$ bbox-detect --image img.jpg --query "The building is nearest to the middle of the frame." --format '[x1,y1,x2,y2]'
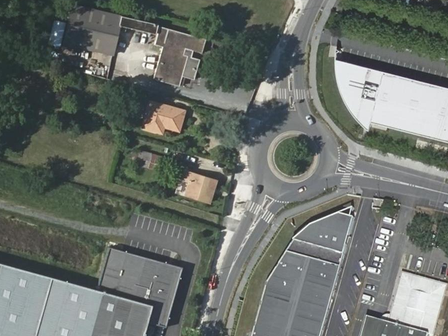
[182,172,218,205]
